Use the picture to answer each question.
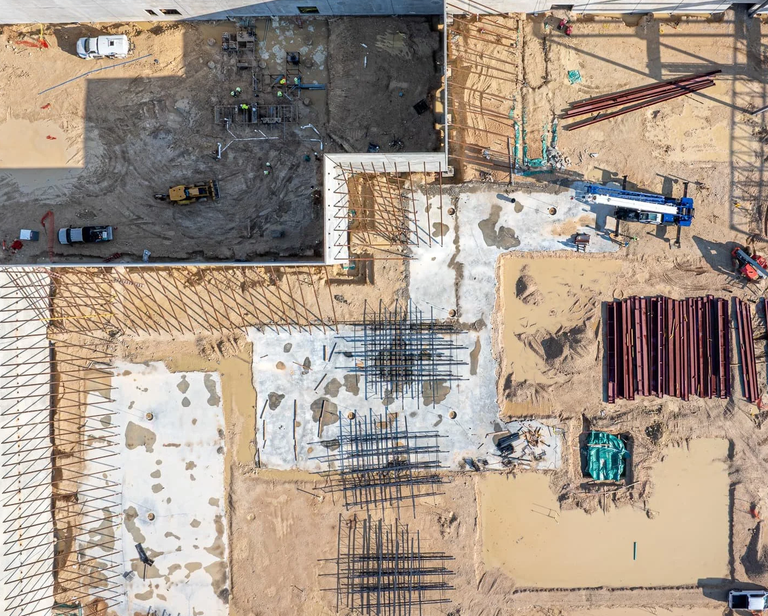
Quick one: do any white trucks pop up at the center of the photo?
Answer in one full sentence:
No, no white truck can be made out at the center of the photo.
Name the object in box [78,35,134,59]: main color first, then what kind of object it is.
white truck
